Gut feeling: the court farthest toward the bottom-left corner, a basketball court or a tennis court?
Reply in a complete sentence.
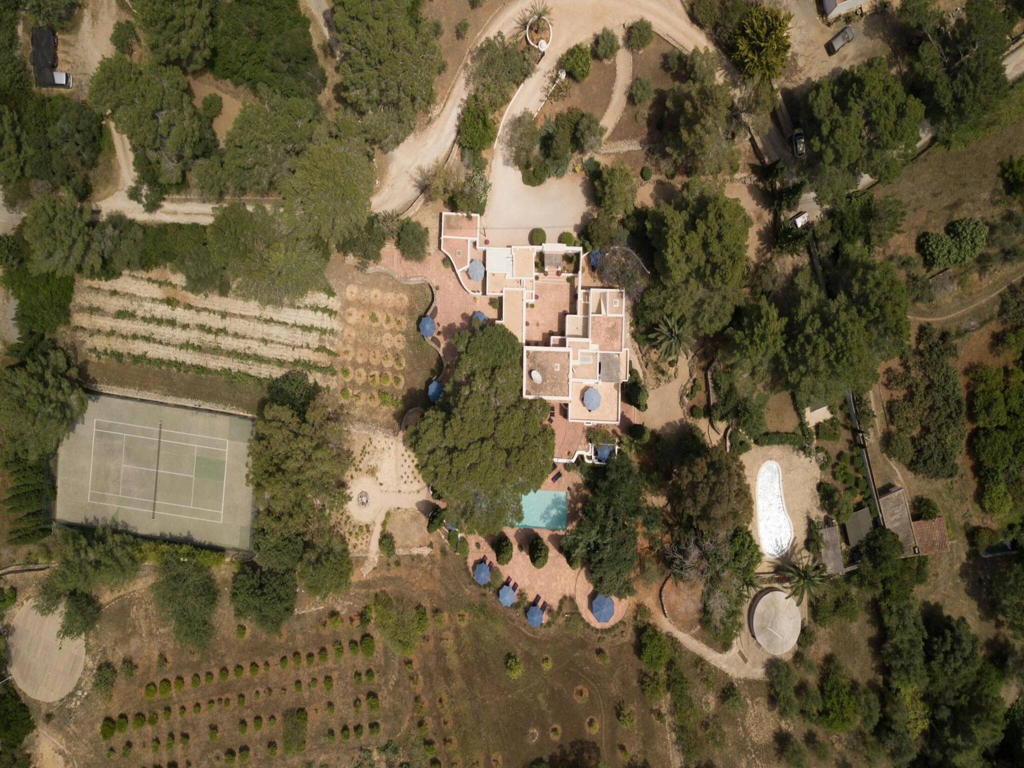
It looks like the court farthest toward the bottom-left corner is a tennis court.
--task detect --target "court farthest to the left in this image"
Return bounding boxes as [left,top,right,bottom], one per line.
[54,393,255,550]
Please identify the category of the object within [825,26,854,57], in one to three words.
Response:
truck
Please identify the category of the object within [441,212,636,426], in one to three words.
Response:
house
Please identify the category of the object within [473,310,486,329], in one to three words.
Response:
umbrella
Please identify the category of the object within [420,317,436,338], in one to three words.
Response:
umbrella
